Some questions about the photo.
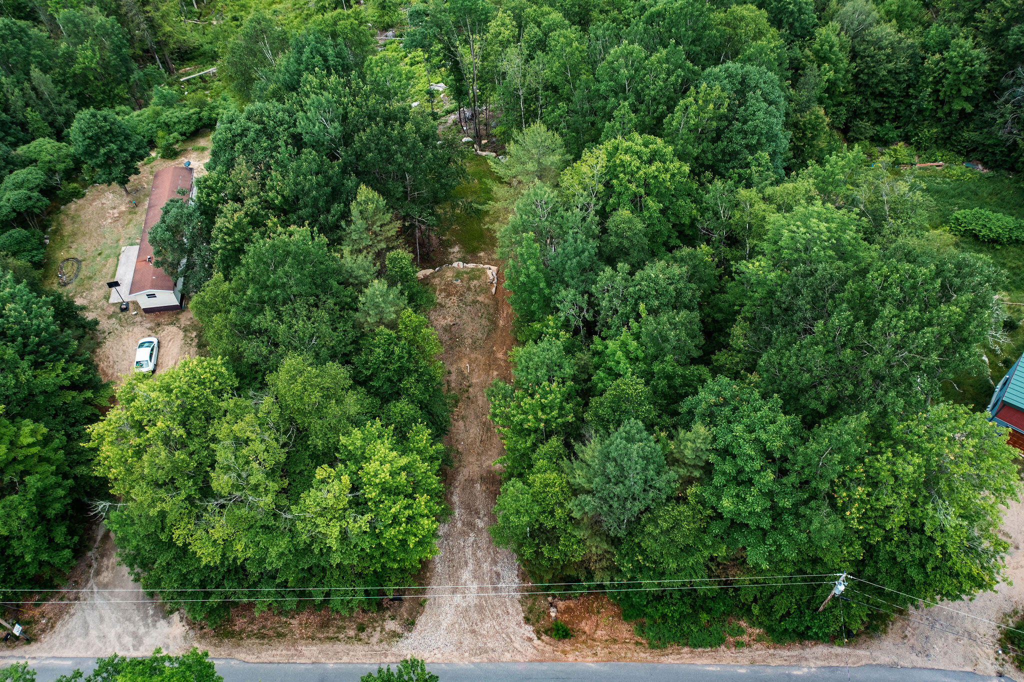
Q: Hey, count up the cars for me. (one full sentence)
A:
Altogether the scene contains 1 car.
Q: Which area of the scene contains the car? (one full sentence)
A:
The car sits in the left section of the image.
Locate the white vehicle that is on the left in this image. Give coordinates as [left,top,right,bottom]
[133,336,159,374]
